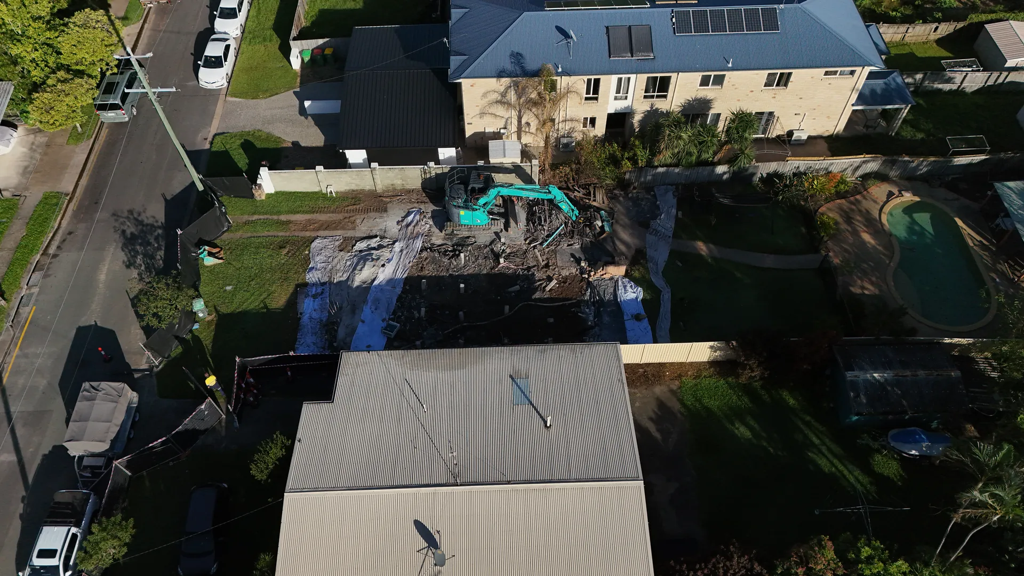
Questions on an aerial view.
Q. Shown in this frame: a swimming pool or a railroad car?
swimming pool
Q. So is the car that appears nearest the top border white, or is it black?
white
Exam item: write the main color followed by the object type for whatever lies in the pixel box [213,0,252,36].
white car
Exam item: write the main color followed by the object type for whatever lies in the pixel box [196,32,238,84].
white car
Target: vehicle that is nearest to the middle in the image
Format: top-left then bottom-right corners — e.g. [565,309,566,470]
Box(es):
[445,168,617,238]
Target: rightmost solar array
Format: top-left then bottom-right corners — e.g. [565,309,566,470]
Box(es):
[670,5,781,34]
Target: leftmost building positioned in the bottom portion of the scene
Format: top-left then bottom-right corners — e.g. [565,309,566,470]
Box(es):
[273,341,657,576]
